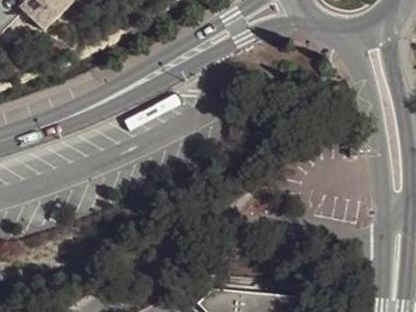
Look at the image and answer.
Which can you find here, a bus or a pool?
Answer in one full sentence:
It is a bus that can be seen here.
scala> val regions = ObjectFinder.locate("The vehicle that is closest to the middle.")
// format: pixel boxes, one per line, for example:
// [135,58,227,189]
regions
[124,92,184,132]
